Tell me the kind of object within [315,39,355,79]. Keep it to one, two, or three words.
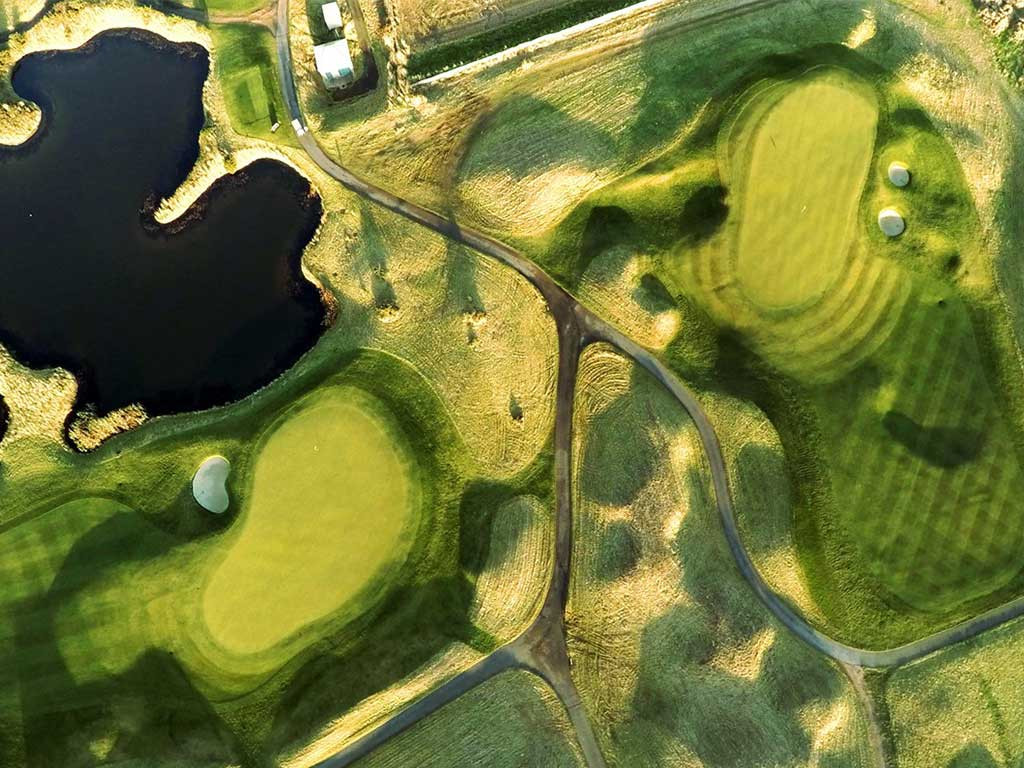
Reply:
building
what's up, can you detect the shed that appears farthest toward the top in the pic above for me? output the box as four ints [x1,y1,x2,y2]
[322,2,345,36]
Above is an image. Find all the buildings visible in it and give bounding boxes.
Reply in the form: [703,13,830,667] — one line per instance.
[315,39,355,79]
[322,2,345,36]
